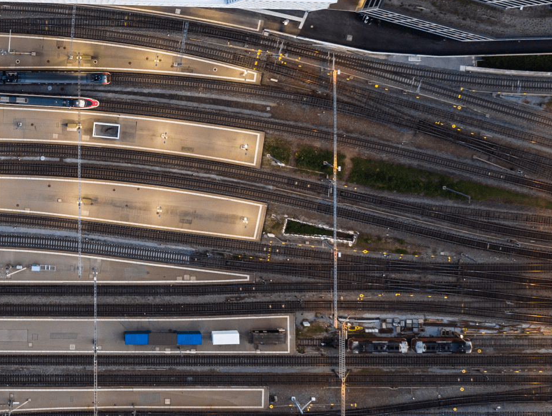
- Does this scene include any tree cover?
No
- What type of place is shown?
rail yard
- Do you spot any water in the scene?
No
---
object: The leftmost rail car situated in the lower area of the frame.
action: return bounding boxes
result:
[347,338,406,353]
